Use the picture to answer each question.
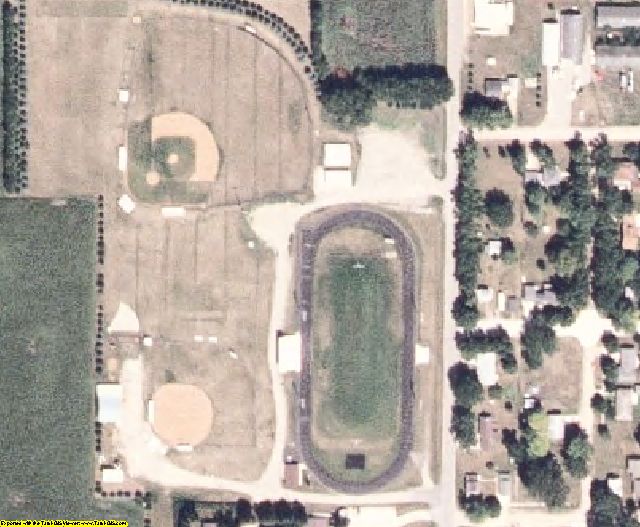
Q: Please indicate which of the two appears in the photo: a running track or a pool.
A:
running track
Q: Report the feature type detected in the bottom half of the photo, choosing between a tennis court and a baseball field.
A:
baseball field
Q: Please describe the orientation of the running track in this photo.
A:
from top to bottom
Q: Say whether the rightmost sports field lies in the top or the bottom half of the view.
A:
bottom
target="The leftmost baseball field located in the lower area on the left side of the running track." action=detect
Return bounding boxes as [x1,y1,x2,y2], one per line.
[152,384,213,446]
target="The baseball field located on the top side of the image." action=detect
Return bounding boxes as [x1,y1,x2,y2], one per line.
[131,19,312,205]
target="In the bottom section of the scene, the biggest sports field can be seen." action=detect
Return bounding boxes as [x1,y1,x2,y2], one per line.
[314,222,401,479]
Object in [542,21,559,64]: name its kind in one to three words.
shed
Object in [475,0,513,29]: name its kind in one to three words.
building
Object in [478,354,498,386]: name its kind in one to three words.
house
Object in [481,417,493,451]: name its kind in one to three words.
house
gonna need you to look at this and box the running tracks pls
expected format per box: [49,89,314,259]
[301,208,415,491]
